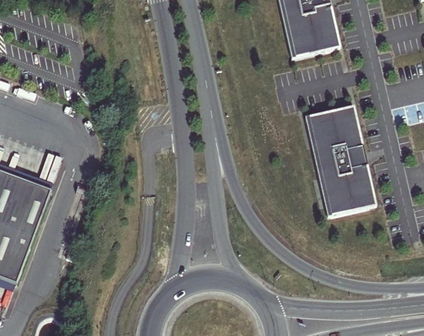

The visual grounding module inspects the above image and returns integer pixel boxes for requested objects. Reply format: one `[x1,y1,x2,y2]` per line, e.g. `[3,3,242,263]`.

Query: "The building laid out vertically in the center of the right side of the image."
[308,105,376,220]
